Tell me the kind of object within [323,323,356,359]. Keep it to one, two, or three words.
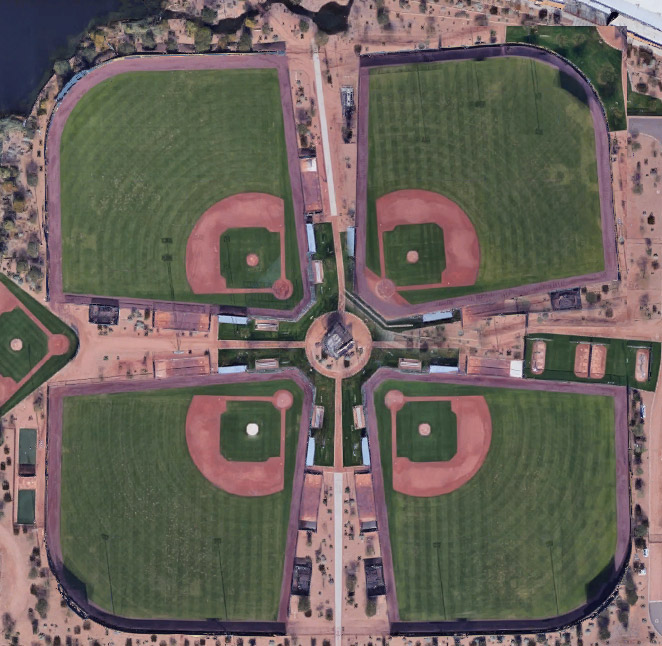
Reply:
building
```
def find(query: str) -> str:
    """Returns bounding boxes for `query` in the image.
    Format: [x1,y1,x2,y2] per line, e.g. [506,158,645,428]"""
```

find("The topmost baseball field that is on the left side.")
[45,54,310,317]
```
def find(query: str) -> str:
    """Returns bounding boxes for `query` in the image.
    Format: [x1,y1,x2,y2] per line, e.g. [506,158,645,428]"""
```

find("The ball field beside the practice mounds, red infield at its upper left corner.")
[364,369,631,634]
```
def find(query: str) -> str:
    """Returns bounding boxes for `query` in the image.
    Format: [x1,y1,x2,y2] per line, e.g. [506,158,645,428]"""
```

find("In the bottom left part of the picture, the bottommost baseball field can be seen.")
[45,369,312,634]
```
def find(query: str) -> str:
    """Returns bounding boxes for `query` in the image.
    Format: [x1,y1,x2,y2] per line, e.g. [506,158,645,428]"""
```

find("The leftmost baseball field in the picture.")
[0,272,78,418]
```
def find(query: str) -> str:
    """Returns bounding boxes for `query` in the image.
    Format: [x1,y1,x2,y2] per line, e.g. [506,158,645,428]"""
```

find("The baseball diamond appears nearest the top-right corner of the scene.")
[356,43,617,319]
